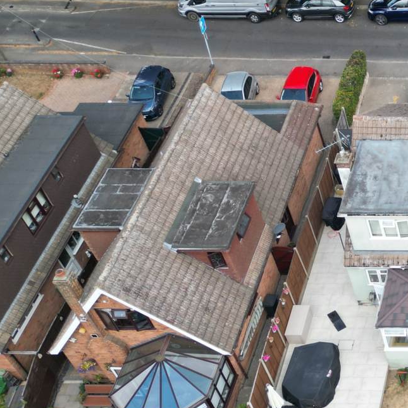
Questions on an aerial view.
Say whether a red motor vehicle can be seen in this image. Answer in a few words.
Yes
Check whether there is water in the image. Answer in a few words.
No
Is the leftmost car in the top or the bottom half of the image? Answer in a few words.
top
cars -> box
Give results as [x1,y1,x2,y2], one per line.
[122,65,185,128]
[369,0,408,24]
[286,0,362,21]
[273,69,323,106]
[216,71,262,106]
